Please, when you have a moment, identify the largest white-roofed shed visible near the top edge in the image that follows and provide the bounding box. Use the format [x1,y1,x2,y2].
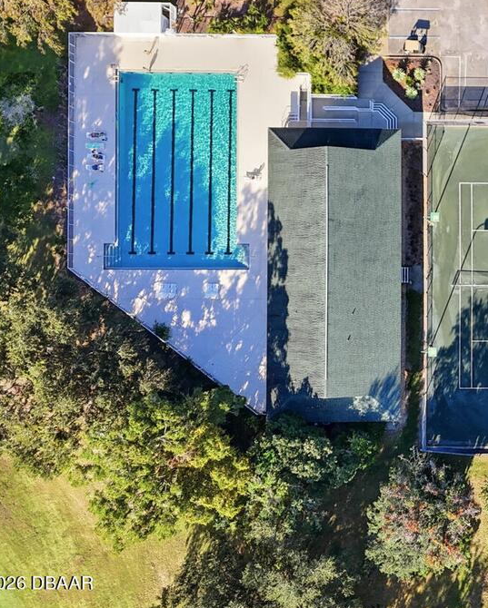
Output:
[113,1,183,37]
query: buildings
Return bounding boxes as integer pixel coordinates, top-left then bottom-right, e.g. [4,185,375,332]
[113,1,183,37]
[270,128,402,423]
